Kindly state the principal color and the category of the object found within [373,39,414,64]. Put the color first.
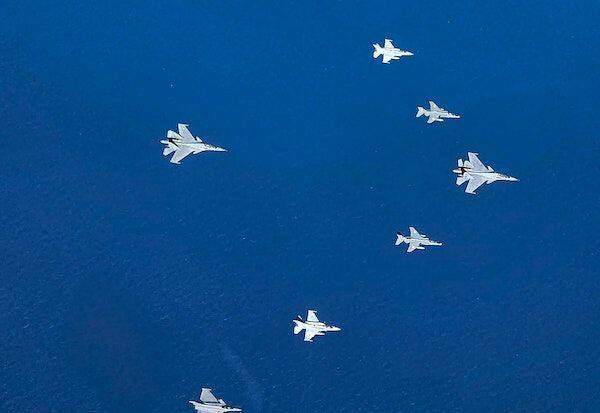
white airplane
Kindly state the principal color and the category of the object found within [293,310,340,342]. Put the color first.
white airplane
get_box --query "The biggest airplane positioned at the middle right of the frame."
[453,153,521,194]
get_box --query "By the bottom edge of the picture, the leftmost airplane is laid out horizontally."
[189,388,242,413]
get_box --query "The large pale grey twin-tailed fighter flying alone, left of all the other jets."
[161,124,227,163]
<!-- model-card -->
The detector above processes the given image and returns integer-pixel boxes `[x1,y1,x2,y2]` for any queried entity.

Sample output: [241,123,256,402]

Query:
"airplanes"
[416,101,460,123]
[161,124,227,163]
[373,39,414,64]
[189,388,242,413]
[293,310,340,342]
[453,153,521,194]
[395,227,443,252]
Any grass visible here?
No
